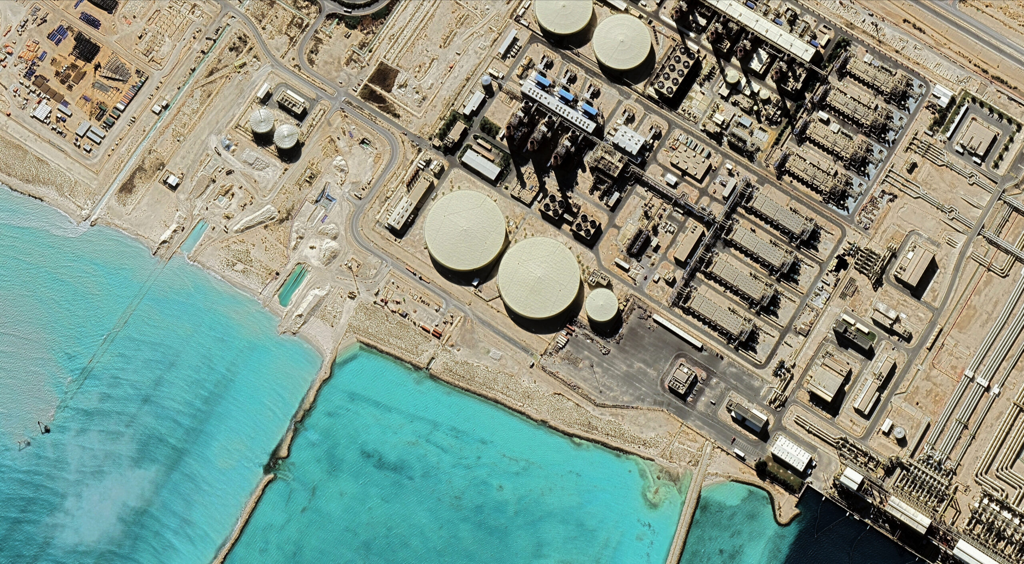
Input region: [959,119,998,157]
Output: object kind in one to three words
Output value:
building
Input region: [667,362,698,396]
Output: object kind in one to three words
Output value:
building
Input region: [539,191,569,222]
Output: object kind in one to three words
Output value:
cooling tower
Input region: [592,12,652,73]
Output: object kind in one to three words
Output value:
storage tank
